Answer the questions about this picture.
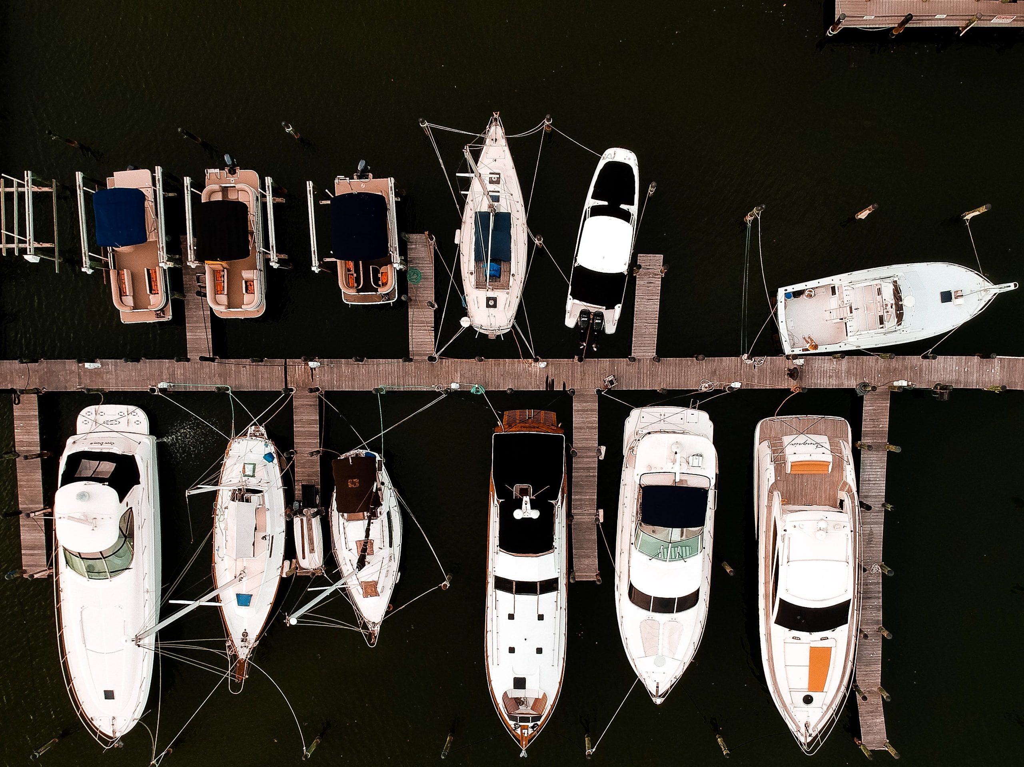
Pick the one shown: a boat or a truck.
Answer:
boat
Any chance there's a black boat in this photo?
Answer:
Yes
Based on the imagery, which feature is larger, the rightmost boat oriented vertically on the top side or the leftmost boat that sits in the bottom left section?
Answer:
the leftmost boat that sits in the bottom left section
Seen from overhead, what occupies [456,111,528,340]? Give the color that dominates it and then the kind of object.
white boat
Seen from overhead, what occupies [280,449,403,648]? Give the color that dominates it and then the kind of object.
white boat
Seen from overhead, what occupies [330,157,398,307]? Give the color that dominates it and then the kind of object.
black boat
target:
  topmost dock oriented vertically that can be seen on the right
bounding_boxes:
[630,254,664,357]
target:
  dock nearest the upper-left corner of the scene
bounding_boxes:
[180,236,215,358]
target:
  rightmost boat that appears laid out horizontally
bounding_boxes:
[770,262,1018,355]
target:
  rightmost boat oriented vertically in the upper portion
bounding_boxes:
[565,147,639,350]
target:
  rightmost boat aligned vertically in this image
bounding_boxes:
[751,415,863,756]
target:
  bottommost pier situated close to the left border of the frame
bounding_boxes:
[13,391,51,578]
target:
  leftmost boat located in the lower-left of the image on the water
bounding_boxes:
[53,404,167,753]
